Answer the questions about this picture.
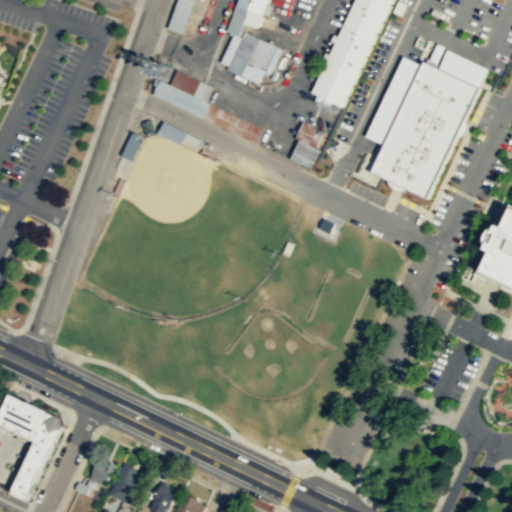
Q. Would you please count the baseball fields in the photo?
2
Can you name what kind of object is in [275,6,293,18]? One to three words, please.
vehicle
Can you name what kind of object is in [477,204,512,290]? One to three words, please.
building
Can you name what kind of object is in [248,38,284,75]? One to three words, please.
barn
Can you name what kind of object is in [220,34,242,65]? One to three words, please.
shed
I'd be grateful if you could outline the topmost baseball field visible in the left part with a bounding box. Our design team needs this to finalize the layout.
[78,134,304,328]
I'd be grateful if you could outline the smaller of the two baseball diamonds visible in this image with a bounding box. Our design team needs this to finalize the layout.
[216,312,333,400]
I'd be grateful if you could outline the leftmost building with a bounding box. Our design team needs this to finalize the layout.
[0,392,62,504]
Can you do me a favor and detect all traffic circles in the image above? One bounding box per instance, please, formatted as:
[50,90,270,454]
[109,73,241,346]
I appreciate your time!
[481,364,512,436]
